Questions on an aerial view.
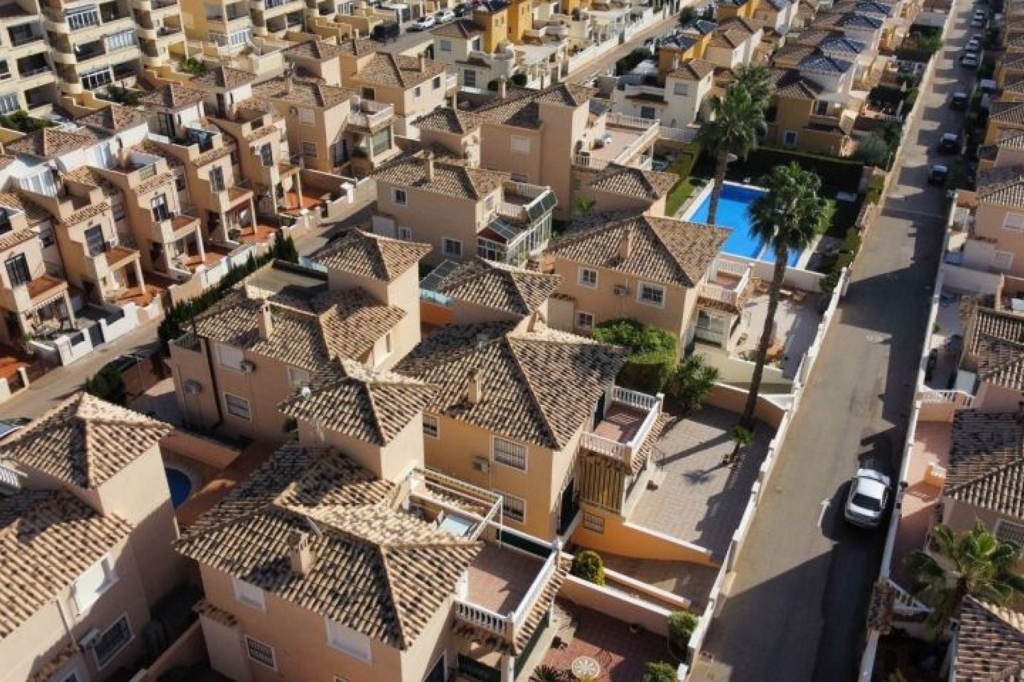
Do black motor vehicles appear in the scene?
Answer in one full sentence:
Yes, there's a black motor vehicle here.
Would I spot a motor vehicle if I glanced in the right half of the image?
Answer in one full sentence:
Yes, the scene does show a motor vehicle in the right half of the image.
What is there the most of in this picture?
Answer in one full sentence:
Most of the picture is covered by buildings.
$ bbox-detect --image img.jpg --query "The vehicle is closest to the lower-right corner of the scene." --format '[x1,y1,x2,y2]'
[844,470,889,530]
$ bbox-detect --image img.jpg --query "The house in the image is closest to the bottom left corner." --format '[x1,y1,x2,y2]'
[0,395,193,682]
